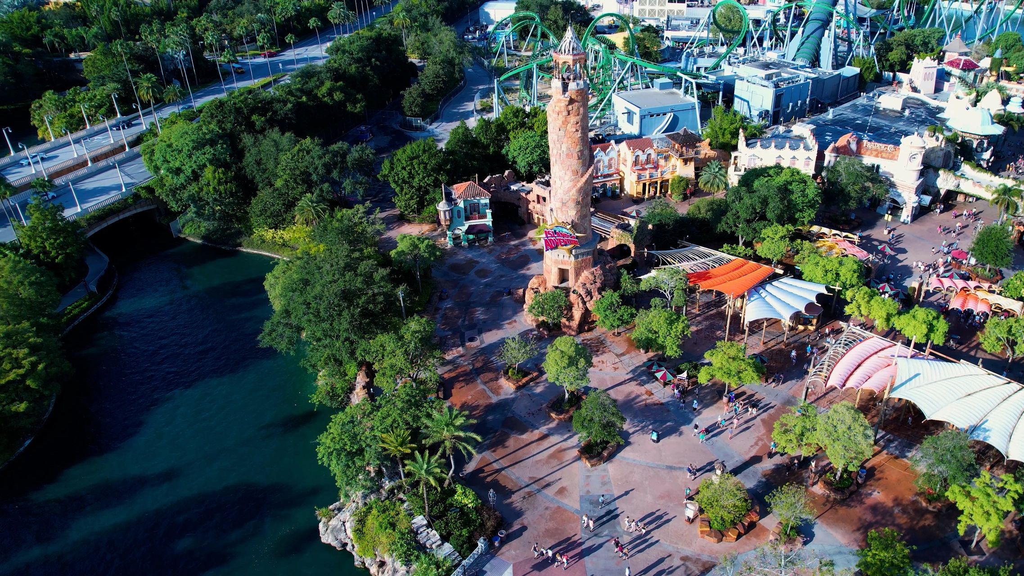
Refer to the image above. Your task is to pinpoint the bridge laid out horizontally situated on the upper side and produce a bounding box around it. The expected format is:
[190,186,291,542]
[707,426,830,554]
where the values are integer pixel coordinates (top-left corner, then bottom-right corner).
[0,107,274,249]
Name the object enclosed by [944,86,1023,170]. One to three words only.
building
